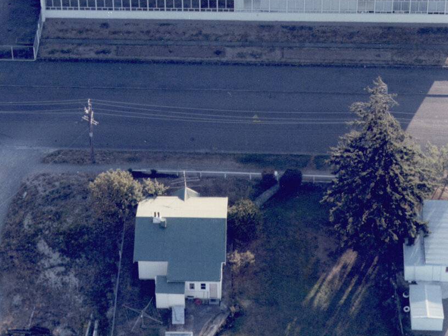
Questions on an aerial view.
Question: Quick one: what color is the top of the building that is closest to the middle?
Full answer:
The roof over the building that is closest to the middle appears blue.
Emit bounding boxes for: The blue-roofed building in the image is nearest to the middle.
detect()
[134,187,228,304]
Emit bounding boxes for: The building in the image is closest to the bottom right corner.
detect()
[408,281,446,332]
